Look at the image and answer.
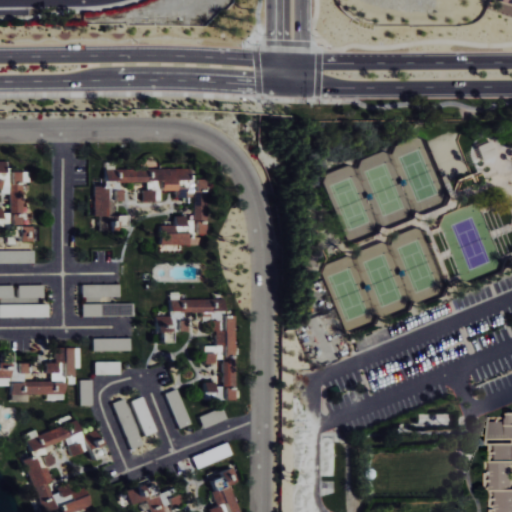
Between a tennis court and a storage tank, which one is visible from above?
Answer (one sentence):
It is a tennis court that can be seen here.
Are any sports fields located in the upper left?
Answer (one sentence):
No, I see no sports field in the upper left.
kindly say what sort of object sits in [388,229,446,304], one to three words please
tennis court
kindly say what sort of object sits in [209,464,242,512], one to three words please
house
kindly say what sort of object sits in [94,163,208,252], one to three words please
house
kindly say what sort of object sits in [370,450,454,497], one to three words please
sports field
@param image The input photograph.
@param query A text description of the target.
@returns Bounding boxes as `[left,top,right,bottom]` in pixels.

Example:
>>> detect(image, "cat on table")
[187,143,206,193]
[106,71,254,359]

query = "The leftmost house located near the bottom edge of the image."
[22,416,108,512]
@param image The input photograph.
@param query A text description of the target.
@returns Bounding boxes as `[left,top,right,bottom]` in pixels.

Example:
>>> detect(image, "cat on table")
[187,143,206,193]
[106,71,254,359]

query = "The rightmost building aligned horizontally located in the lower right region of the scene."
[412,414,450,426]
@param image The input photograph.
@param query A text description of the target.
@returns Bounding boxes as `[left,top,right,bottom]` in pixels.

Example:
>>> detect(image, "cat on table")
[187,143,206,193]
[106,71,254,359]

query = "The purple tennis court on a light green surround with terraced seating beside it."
[438,203,502,283]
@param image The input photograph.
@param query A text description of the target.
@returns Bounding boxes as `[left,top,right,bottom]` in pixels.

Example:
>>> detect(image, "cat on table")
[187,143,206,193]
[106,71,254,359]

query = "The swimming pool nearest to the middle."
[153,264,204,282]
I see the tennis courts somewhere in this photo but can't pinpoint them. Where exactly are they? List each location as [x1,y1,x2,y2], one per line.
[389,136,449,215]
[353,242,412,319]
[438,203,502,283]
[325,166,378,242]
[355,152,414,228]
[388,229,446,304]
[318,256,376,333]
